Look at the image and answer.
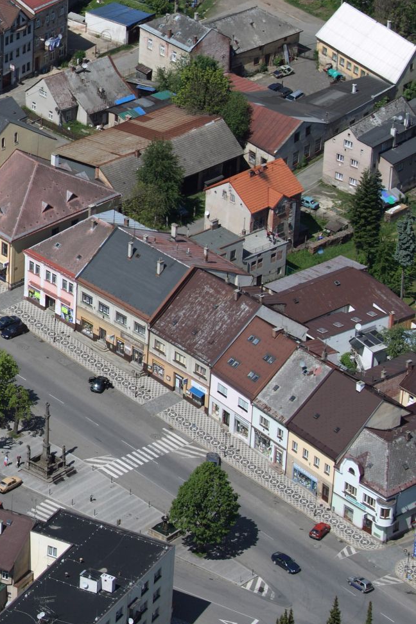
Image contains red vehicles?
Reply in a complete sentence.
Yes, the frame does contain a red vehicle.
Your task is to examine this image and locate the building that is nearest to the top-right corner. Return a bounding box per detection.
[314,2,416,105]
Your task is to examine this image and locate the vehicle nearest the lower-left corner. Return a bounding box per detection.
[0,475,23,492]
